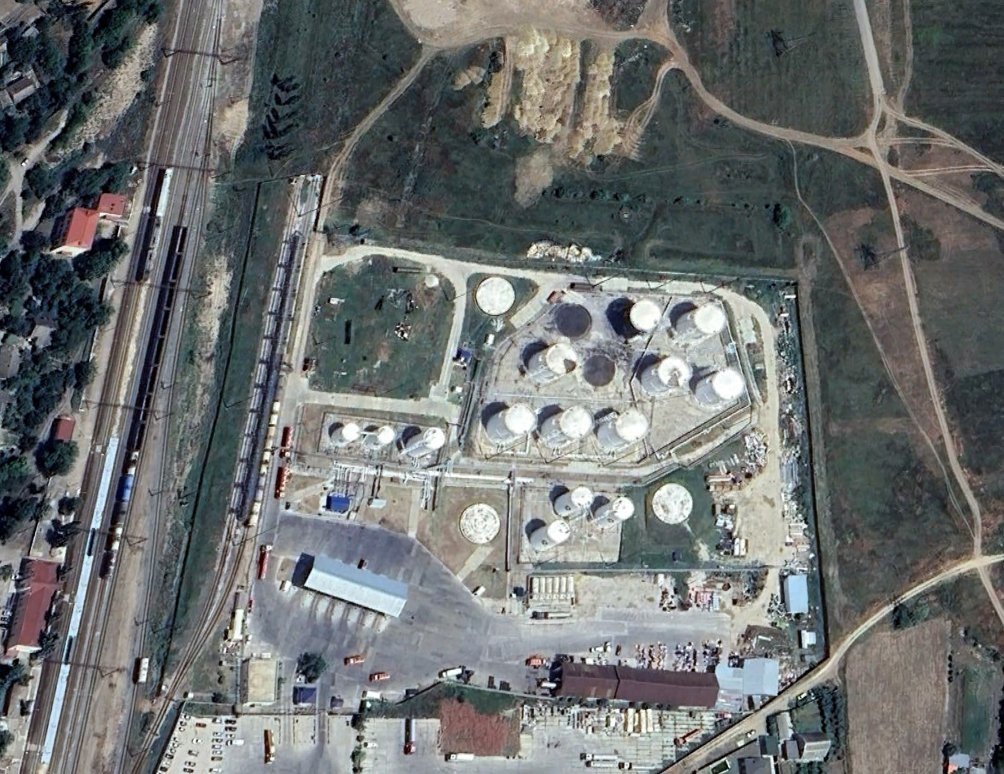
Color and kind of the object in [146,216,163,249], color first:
gray rail car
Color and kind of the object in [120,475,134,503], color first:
blue rail car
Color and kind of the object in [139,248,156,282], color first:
gray rail car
